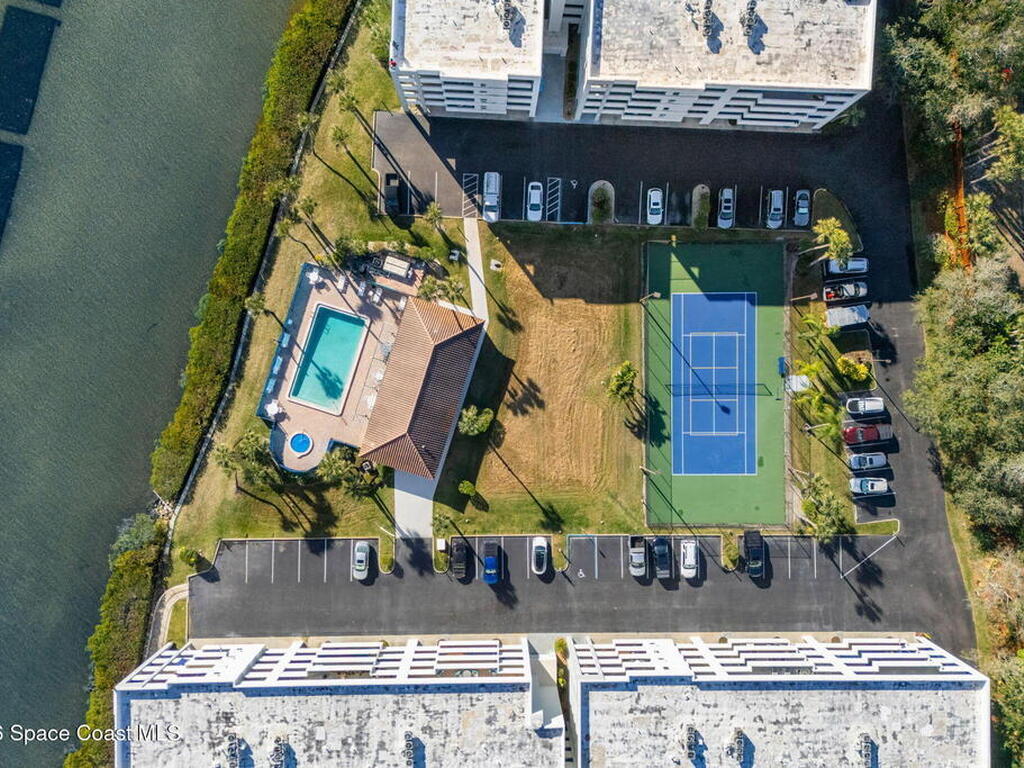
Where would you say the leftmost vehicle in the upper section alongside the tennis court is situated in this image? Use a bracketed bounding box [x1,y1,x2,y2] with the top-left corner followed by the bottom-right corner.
[646,189,664,225]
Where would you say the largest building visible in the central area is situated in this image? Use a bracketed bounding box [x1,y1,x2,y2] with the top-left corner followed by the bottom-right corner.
[359,297,487,479]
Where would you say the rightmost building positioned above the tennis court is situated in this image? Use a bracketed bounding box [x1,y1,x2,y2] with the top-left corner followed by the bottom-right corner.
[574,0,877,131]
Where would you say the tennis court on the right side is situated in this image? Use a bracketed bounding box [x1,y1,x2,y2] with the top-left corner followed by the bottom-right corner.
[647,241,784,525]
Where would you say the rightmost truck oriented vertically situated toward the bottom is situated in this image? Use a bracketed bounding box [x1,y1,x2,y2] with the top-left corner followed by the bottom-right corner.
[743,530,764,579]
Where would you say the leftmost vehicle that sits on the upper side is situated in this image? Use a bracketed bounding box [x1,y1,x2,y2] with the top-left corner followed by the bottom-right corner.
[381,171,400,216]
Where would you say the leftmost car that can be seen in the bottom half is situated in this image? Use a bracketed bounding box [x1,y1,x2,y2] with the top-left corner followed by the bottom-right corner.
[352,541,370,580]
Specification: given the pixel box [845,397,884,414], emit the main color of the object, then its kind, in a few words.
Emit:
white car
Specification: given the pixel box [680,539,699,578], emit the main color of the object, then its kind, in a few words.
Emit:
white car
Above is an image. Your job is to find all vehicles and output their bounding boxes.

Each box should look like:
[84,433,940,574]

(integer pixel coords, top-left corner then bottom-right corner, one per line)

[531,536,549,575]
[451,540,468,579]
[843,425,893,444]
[848,453,887,471]
[717,188,736,229]
[849,477,889,495]
[381,171,400,216]
[629,535,647,578]
[646,189,664,225]
[824,305,869,328]
[482,171,501,221]
[352,541,370,580]
[845,397,884,414]
[526,182,544,222]
[680,539,699,578]
[827,258,868,274]
[743,530,764,579]
[766,189,786,229]
[653,537,672,580]
[792,190,811,227]
[823,282,868,300]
